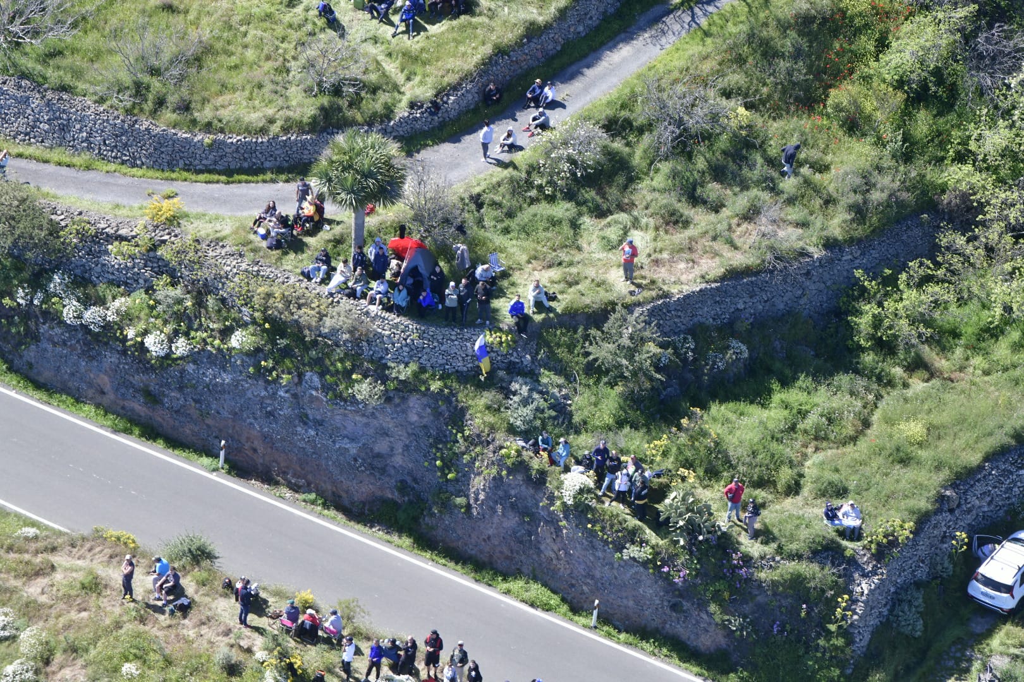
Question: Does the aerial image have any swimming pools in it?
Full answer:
No, no swimming pool is visible in the scene.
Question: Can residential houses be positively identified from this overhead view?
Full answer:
No, no residential house is visible in the view.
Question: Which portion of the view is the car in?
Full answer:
You can find the car in the bottom right area of the picture.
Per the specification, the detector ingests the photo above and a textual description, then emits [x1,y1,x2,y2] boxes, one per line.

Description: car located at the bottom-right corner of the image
[968,518,1024,613]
